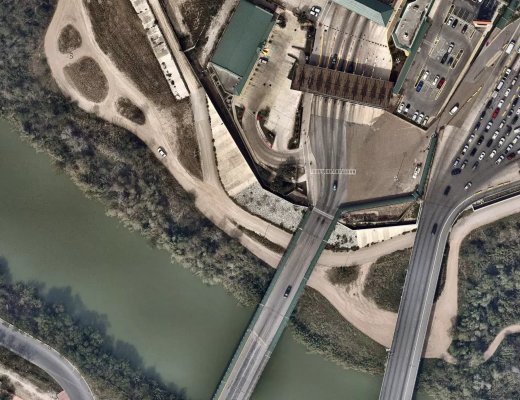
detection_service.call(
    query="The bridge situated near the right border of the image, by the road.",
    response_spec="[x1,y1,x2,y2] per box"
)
[379,178,520,400]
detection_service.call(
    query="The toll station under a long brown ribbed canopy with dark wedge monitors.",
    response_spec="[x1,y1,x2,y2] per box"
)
[288,58,395,108]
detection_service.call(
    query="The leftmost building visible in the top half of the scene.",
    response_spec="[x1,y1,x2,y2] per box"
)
[210,0,273,94]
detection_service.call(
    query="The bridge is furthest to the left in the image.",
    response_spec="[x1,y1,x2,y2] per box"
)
[213,208,341,400]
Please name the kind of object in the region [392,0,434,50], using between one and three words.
building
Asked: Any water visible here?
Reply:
Yes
